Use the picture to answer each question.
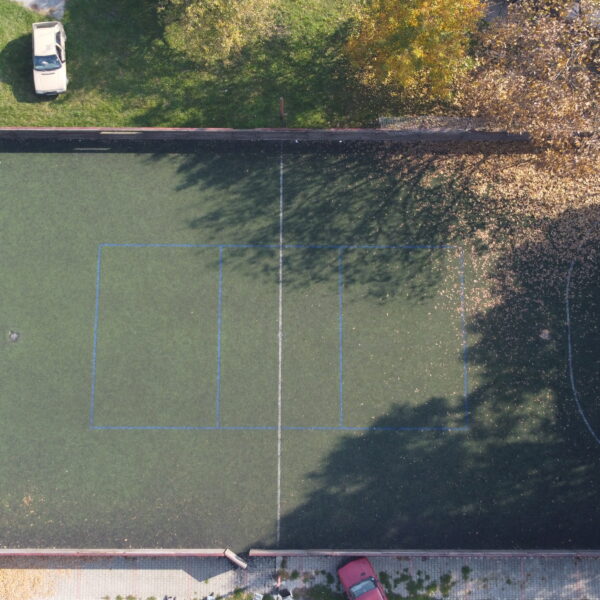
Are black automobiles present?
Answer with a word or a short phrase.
No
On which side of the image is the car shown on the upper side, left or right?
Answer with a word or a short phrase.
left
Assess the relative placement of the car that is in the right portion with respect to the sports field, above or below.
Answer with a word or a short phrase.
below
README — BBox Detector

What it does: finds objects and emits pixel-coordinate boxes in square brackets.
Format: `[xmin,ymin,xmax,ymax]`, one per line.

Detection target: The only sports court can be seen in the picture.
[91,244,468,430]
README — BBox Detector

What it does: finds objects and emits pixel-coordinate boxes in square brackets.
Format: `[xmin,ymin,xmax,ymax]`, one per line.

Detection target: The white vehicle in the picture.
[29,24,70,98]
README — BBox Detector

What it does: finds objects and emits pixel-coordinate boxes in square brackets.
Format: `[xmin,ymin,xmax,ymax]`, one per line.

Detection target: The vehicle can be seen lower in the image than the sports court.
[337,555,387,600]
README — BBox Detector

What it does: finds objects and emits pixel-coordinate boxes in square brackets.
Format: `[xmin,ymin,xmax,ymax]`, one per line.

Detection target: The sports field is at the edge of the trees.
[0,138,600,550]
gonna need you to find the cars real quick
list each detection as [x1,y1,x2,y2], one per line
[337,555,387,600]
[29,24,70,98]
